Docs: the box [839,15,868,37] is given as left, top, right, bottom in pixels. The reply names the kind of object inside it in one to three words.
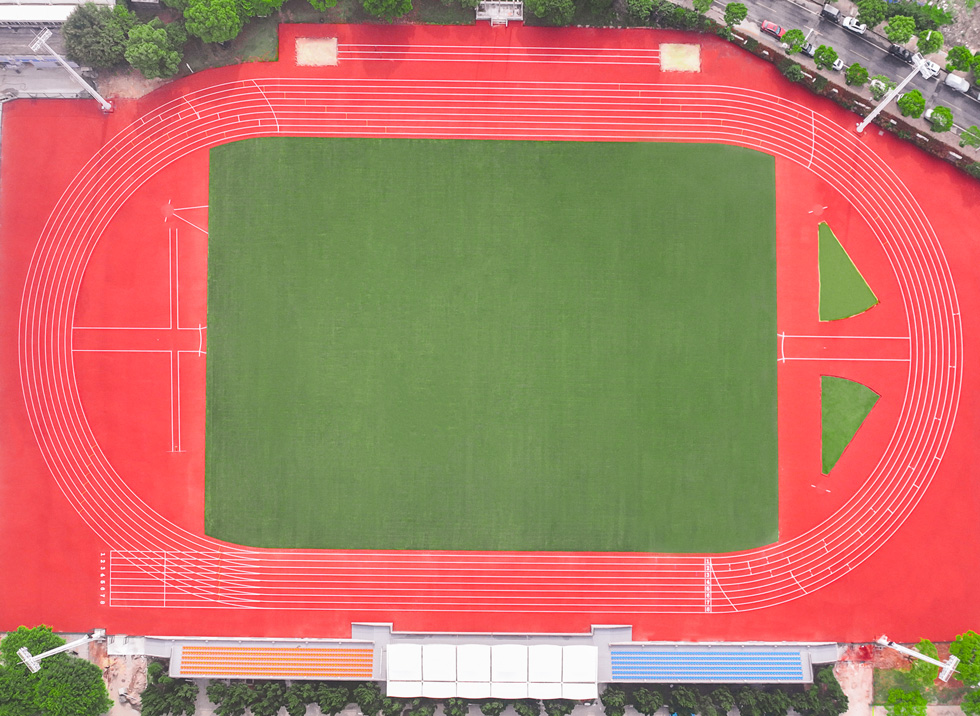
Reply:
car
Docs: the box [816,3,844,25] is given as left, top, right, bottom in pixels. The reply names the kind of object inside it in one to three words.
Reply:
vehicle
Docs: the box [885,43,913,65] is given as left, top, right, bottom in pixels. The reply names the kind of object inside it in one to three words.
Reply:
car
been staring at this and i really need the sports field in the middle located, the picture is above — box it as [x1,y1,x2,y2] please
[205,136,779,553]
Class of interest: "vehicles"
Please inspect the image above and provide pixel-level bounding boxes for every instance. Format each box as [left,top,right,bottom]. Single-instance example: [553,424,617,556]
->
[942,71,970,95]
[822,56,844,72]
[921,59,945,79]
[759,19,785,41]
[893,91,904,105]
[919,104,937,126]
[796,40,816,60]
[839,15,868,37]
[816,3,844,25]
[575,699,599,709]
[885,43,913,65]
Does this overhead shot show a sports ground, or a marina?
sports ground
